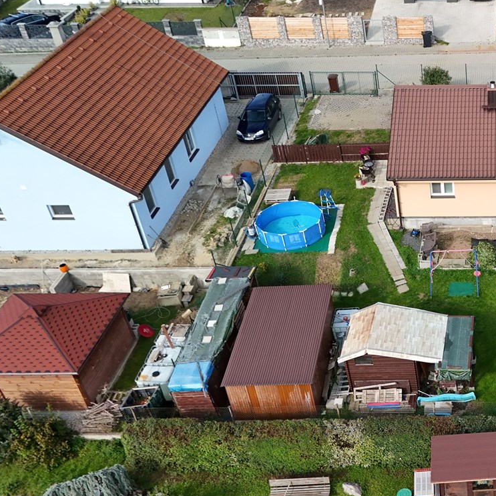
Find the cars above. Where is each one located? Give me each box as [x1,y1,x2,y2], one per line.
[0,3,57,26]
[232,90,281,138]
